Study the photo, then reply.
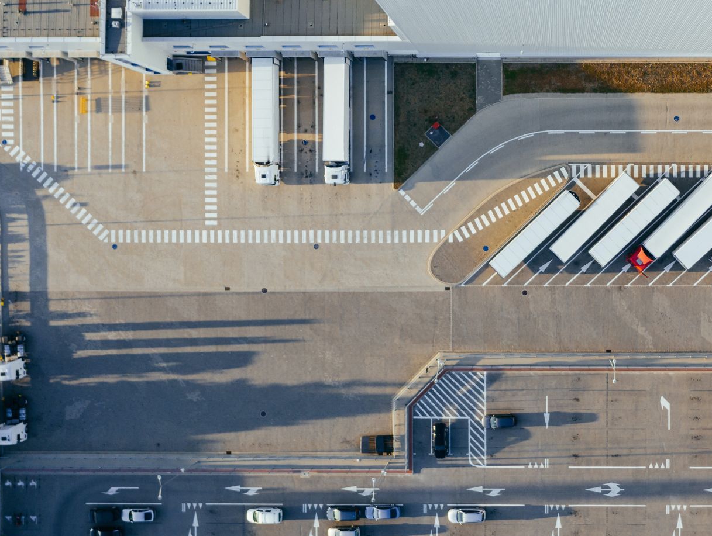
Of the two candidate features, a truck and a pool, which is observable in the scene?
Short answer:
truck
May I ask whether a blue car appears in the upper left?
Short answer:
No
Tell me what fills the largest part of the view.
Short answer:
paved ground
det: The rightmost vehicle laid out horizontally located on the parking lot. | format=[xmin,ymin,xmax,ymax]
[484,412,517,429]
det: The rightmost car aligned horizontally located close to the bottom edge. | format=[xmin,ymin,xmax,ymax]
[448,506,486,524]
